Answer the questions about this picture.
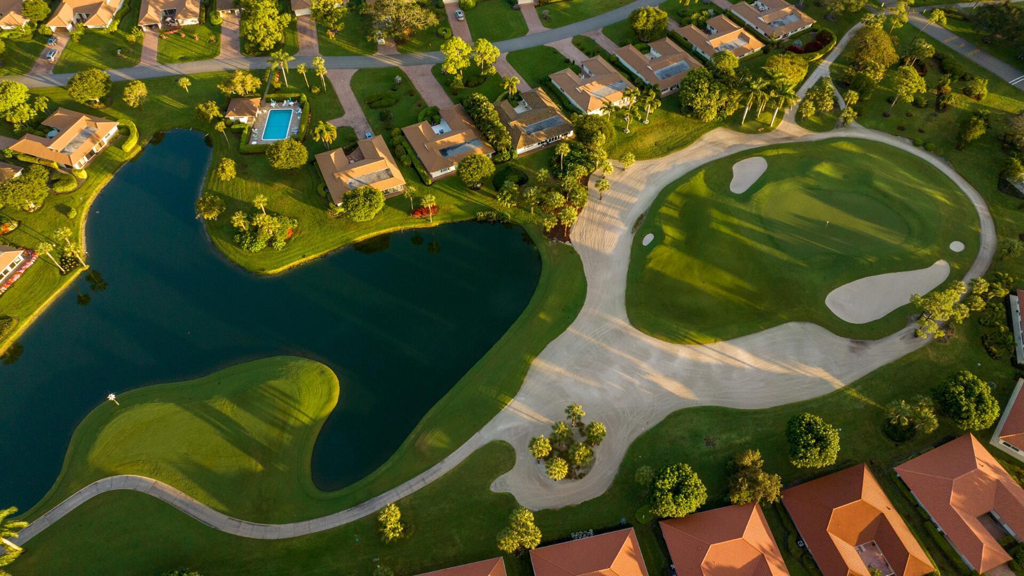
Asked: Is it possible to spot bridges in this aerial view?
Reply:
No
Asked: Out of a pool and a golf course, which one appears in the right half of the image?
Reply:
golf course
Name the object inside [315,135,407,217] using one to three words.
house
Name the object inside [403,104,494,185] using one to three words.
house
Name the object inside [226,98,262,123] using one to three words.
building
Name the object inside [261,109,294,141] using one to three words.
swimming pool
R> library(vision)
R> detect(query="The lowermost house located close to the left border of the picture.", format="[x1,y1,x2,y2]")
[0,239,33,290]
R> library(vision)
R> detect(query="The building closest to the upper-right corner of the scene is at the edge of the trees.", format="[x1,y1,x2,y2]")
[725,0,816,43]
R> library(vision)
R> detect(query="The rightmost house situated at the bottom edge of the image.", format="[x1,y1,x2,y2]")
[893,433,1024,576]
